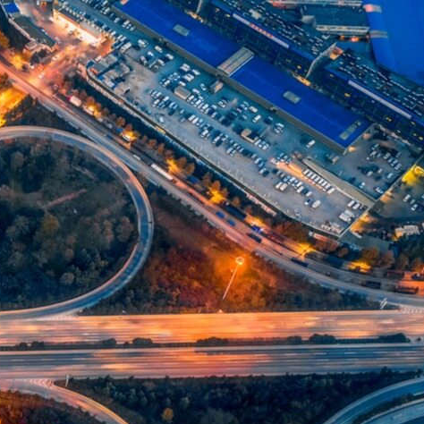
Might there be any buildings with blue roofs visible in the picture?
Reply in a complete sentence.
Yes, this view includes a building with a blue roof.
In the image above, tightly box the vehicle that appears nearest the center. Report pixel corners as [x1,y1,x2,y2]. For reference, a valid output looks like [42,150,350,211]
[223,203,241,216]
